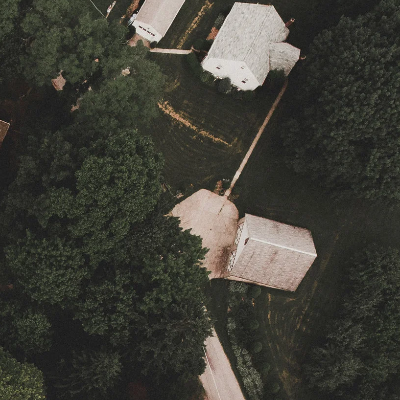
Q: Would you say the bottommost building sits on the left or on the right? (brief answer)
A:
right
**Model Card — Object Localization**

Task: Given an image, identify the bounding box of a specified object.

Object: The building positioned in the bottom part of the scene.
[227,213,318,291]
